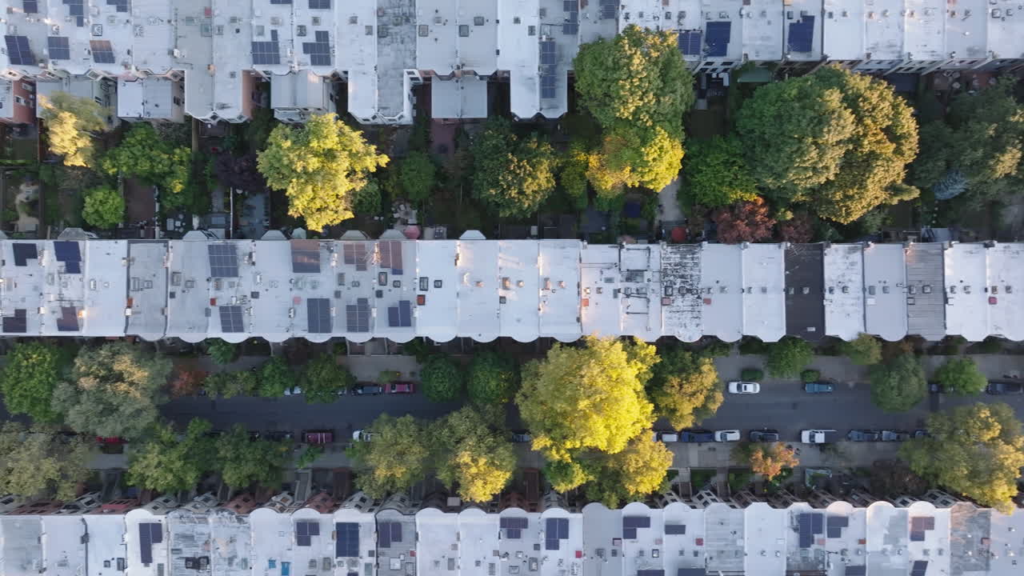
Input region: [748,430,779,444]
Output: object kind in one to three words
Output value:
car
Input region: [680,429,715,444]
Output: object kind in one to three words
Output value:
vehicle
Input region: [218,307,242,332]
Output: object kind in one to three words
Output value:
solar array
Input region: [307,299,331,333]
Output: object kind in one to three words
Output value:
solar array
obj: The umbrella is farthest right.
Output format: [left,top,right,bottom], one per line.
[671,225,686,240]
